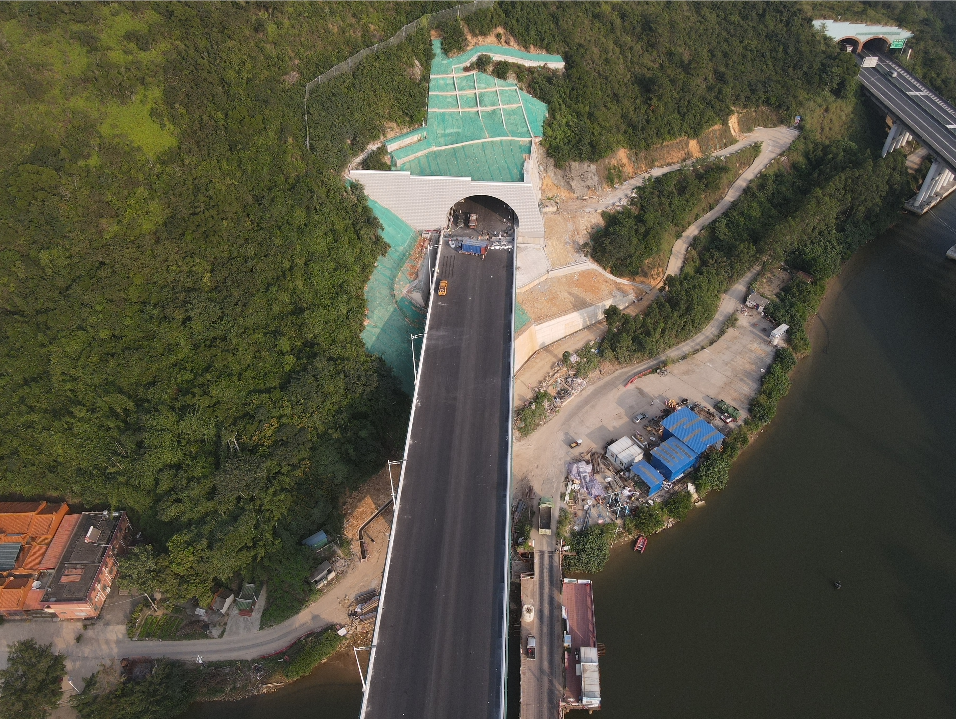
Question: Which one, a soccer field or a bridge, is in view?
bridge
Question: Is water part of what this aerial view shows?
Yes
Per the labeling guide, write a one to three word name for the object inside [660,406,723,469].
shed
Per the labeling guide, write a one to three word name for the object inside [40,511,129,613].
building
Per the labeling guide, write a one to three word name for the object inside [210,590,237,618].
shed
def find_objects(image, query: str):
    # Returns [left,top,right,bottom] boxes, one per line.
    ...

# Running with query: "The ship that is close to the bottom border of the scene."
[562,582,605,719]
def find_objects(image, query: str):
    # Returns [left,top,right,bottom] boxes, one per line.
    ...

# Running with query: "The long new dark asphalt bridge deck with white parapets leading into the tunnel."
[360,197,513,719]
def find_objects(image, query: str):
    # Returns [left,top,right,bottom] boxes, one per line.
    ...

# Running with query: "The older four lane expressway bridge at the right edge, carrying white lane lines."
[829,39,956,214]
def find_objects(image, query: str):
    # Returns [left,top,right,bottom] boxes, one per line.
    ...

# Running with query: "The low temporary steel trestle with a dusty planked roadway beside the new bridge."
[518,544,563,719]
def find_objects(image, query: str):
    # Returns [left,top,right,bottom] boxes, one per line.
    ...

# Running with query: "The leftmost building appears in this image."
[0,501,80,619]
